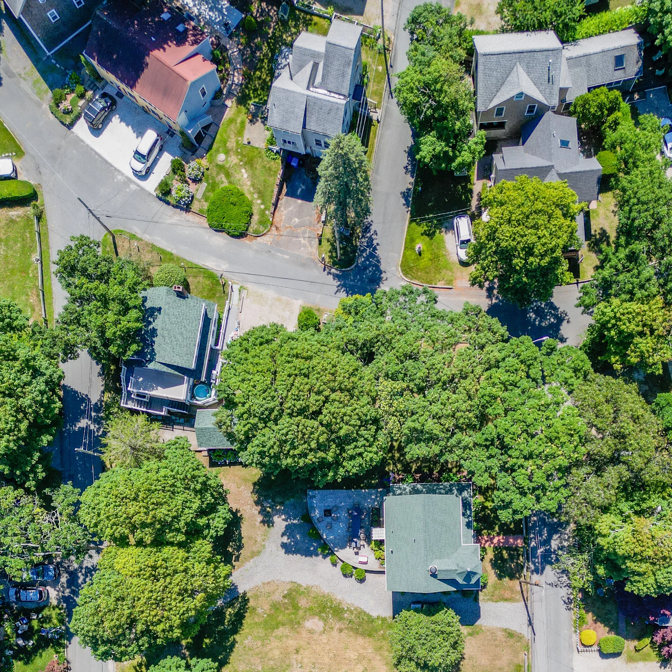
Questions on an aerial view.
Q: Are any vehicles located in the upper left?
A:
Yes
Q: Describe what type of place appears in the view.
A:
residential area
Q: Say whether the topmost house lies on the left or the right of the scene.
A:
left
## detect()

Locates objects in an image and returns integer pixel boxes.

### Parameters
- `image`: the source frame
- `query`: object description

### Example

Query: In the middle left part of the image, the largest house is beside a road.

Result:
[117,272,231,417]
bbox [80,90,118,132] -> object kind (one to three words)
car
